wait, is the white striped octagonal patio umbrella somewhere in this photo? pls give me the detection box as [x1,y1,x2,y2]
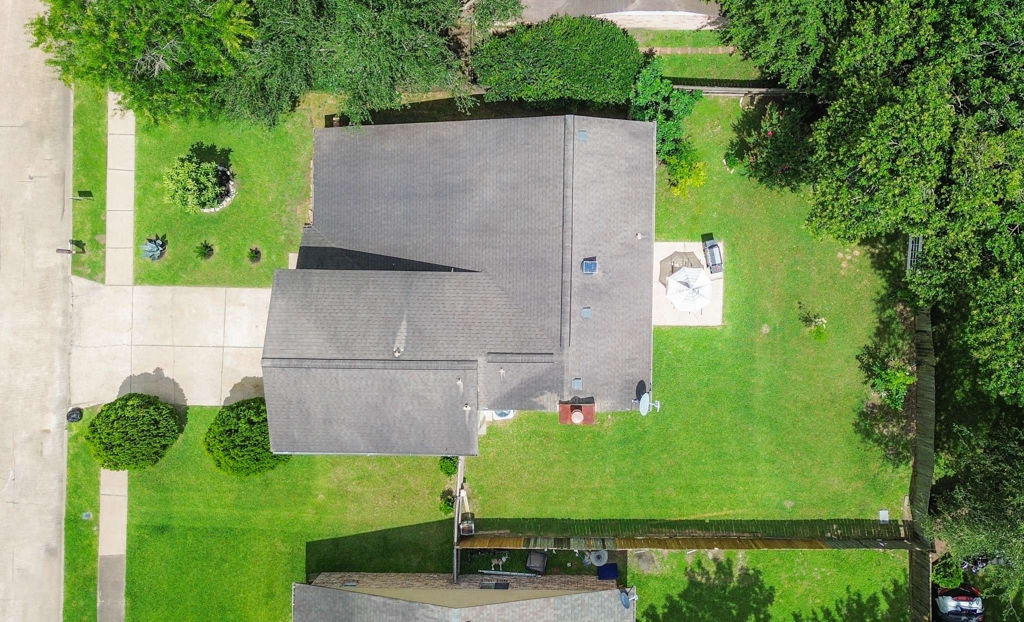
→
[666,266,712,312]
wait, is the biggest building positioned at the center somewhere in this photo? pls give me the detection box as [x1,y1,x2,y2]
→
[261,112,658,458]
